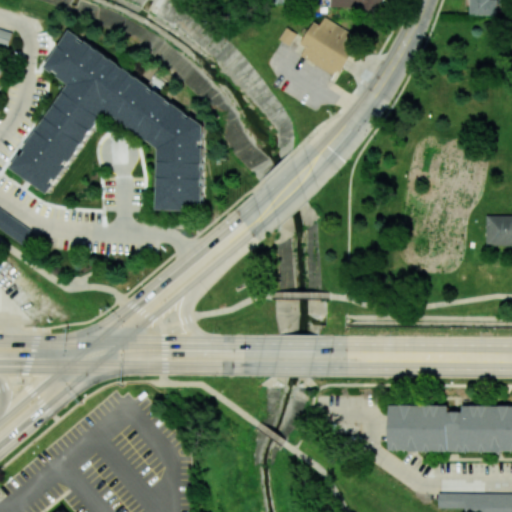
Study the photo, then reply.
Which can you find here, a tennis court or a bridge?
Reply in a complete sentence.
It is a bridge that can be seen here.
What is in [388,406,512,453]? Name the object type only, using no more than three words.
building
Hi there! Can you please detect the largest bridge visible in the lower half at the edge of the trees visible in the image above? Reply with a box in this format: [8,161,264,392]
[259,335,334,378]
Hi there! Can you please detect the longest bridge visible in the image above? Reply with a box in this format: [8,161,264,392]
[250,128,331,231]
